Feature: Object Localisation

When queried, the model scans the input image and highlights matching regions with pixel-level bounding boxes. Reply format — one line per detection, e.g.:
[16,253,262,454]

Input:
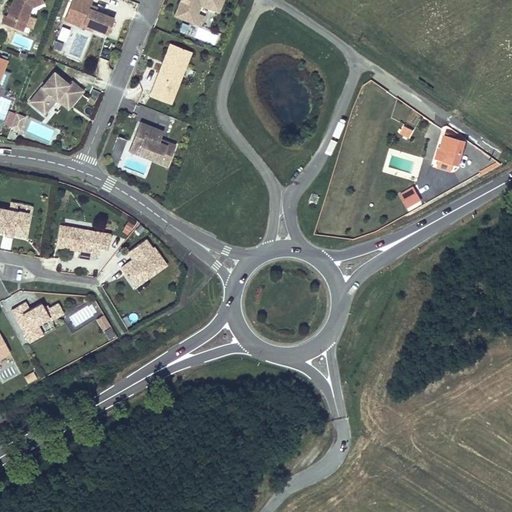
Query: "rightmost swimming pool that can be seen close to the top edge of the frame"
[54,22,95,63]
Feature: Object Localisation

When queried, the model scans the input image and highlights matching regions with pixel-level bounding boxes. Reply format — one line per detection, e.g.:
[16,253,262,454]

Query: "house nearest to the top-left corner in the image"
[2,0,46,31]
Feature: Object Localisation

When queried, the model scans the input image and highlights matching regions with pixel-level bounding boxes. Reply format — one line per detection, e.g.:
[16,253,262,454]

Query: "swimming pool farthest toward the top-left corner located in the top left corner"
[10,32,35,52]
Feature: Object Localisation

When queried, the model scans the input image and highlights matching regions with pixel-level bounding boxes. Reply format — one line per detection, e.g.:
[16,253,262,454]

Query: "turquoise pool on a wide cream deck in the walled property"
[382,148,423,182]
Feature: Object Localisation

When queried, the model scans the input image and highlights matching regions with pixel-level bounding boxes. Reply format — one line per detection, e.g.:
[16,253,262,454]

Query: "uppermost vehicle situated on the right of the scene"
[326,119,346,154]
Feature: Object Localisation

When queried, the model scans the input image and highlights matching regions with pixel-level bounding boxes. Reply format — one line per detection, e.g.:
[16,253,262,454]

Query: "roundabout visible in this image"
[8,170,512,457]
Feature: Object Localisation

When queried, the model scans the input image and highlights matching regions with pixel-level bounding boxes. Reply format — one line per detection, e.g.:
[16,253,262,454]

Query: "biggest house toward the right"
[434,130,466,172]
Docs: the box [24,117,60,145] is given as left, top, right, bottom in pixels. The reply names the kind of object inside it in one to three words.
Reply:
swimming pool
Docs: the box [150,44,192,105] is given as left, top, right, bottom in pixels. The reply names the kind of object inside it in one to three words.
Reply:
house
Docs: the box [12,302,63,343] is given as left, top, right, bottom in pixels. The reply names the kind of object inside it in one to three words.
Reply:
house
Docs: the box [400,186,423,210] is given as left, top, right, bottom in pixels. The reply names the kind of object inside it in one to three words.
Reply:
building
